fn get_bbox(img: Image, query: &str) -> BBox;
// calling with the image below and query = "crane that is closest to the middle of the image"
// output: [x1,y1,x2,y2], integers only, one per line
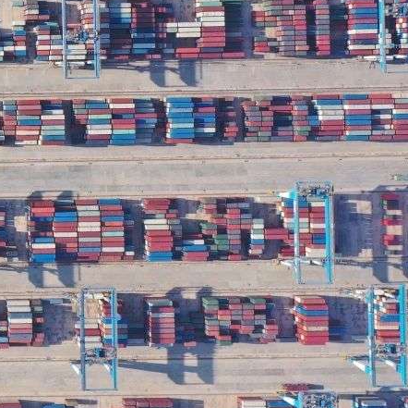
[273,179,334,284]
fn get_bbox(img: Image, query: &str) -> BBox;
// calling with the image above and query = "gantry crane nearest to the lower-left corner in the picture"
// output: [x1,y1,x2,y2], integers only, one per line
[66,287,118,390]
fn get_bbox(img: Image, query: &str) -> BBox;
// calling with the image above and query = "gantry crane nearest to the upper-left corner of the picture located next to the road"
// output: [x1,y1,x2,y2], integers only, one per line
[49,0,99,79]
